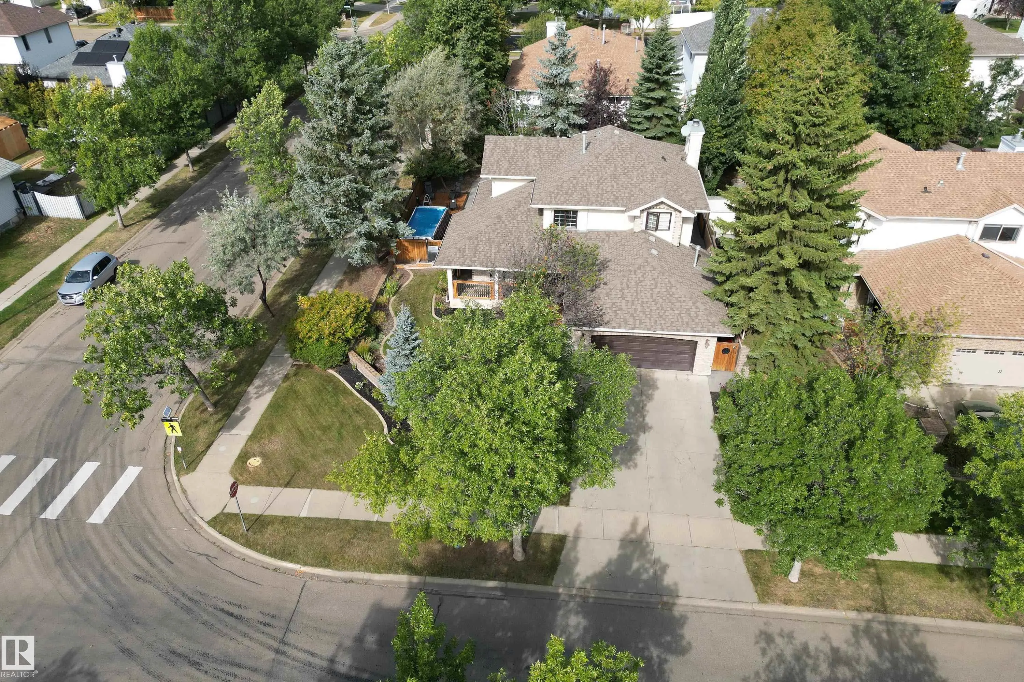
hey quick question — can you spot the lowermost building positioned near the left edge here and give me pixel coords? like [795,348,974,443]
[0,169,41,227]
